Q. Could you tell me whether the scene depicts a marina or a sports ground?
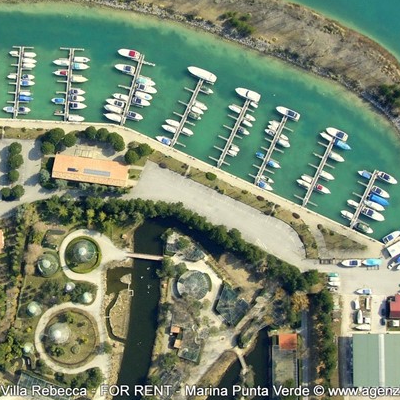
marina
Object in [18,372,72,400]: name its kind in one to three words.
greenhouse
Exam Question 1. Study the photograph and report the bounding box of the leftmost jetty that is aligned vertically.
[8,46,34,119]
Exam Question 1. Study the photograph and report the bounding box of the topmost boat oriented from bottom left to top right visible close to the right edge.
[382,232,400,245]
